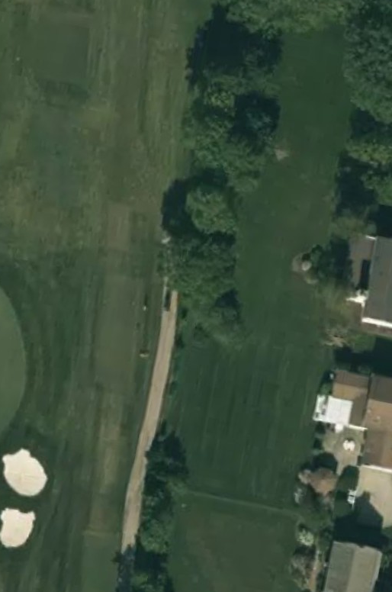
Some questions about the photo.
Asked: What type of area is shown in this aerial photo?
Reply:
golf course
